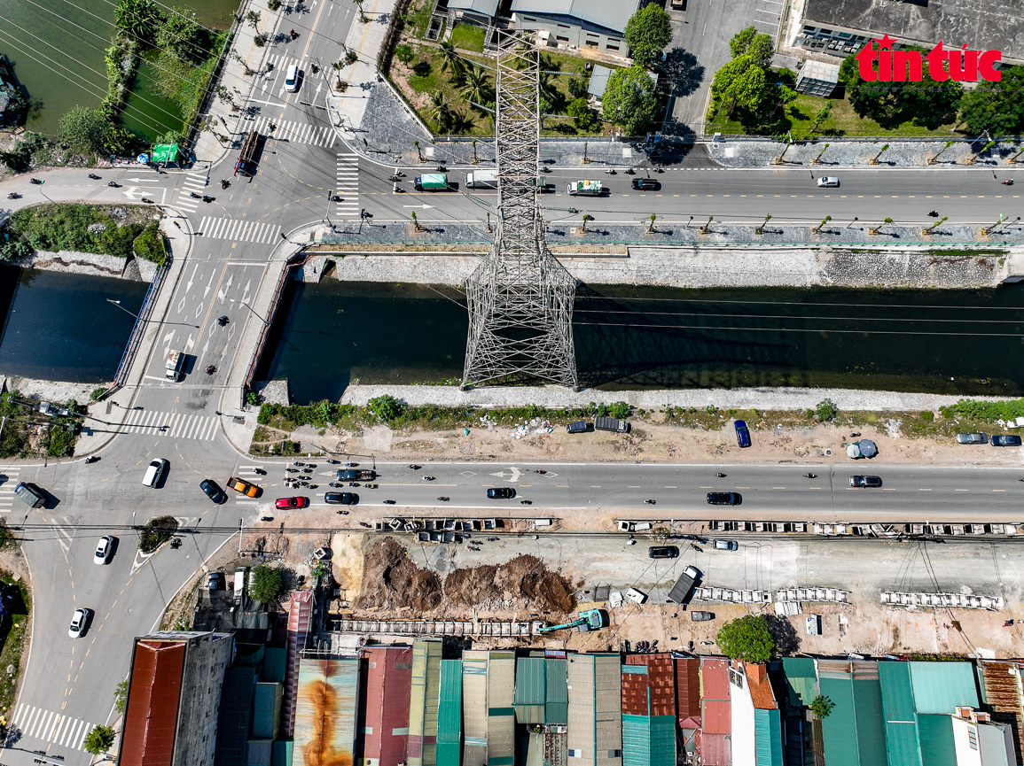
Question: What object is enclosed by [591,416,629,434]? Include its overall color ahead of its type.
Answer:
gray vehicle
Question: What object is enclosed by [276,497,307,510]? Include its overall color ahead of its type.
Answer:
red vehicle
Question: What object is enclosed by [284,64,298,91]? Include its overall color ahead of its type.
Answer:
white vehicle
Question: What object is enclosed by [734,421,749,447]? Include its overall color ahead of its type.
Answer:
blue car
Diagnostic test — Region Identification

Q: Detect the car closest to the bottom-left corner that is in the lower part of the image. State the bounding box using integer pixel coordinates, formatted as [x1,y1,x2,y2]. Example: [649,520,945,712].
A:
[69,607,91,639]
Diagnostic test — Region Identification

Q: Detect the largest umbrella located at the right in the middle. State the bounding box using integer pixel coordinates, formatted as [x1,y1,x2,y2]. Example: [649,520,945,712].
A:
[857,439,876,458]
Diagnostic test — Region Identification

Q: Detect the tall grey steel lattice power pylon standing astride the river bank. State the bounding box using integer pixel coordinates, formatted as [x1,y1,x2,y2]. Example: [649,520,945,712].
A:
[445,10,588,395]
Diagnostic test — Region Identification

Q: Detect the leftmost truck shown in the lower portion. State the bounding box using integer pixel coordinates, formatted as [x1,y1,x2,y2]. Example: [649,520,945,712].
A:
[12,483,48,513]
